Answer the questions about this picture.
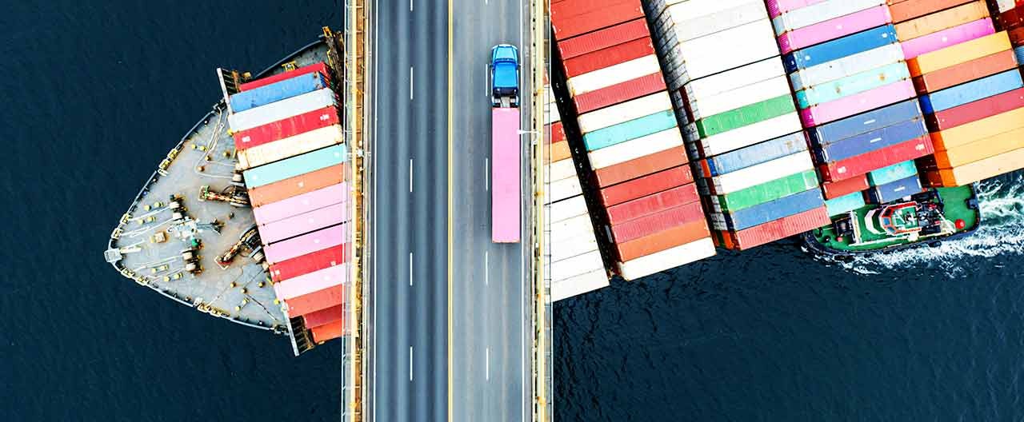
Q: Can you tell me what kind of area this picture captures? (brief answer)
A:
port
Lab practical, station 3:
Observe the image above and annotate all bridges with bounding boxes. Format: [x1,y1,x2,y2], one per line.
[341,0,555,422]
